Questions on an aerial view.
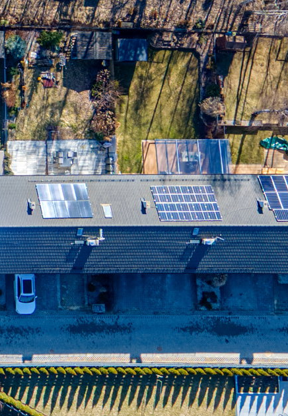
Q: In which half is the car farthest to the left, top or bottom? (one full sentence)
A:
The car farthest to the left is in the bottom half of the image.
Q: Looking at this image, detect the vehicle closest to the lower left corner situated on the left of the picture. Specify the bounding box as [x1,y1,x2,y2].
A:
[14,274,36,314]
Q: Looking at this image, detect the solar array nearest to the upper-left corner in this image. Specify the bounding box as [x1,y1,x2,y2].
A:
[33,183,98,217]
